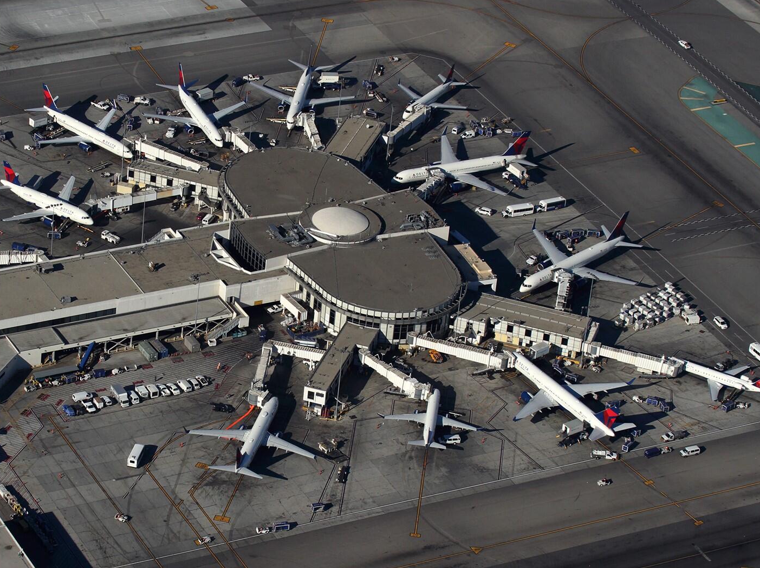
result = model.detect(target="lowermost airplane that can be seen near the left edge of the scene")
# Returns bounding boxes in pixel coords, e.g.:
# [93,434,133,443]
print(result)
[0,162,95,230]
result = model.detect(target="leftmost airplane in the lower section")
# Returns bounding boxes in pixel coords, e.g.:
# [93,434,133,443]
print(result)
[189,398,321,475]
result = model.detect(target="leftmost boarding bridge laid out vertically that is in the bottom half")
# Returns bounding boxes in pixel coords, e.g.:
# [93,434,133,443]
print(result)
[253,344,273,407]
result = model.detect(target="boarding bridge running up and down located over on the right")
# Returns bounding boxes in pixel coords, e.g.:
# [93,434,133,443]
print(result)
[553,271,572,313]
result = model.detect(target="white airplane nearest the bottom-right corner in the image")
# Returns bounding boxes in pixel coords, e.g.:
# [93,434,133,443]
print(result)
[659,355,760,398]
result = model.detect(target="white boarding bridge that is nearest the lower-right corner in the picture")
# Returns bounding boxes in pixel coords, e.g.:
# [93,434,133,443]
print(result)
[589,344,683,379]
